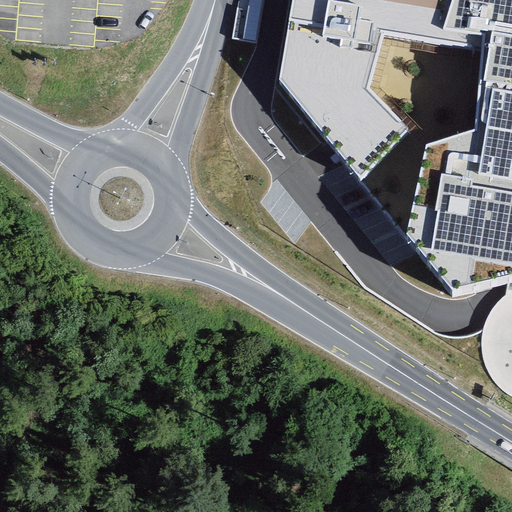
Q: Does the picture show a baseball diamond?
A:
No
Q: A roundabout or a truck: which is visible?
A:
roundabout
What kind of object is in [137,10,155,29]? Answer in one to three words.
car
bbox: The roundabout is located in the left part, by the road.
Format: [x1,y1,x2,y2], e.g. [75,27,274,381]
[53,130,191,268]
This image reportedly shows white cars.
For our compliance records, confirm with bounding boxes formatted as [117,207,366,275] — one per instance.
[137,10,155,29]
[500,440,512,456]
